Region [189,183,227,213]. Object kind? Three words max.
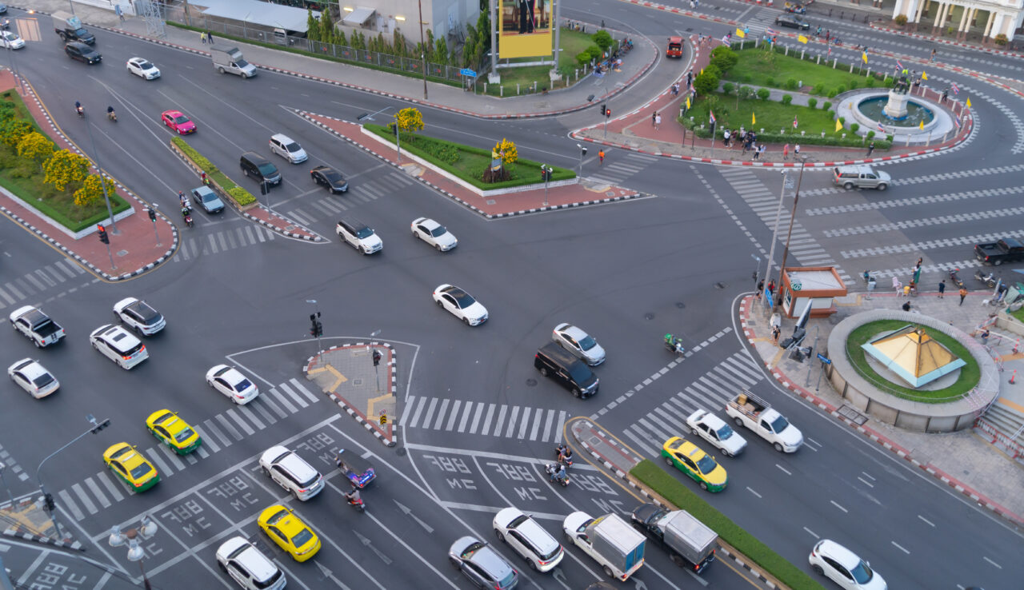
car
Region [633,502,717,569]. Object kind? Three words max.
truck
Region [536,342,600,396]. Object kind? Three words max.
van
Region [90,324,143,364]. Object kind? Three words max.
vehicle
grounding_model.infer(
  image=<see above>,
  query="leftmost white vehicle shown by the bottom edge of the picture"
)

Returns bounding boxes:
[214,533,282,590]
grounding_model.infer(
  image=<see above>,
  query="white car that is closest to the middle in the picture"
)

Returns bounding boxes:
[433,284,488,325]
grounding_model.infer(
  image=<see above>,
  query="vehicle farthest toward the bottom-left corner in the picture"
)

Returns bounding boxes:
[102,440,160,489]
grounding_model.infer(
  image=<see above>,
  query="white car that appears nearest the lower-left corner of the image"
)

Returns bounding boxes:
[5,356,58,395]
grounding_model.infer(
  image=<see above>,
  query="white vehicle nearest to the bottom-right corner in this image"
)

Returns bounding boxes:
[808,535,882,590]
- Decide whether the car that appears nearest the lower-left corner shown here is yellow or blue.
yellow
